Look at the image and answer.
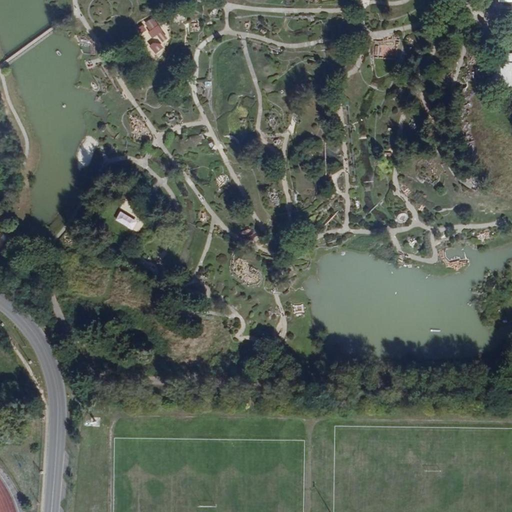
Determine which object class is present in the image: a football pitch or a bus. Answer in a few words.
football pitch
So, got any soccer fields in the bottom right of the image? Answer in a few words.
Yes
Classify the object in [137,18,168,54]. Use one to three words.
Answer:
building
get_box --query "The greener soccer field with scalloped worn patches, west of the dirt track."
[112,437,304,512]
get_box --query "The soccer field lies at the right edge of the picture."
[334,426,512,512]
